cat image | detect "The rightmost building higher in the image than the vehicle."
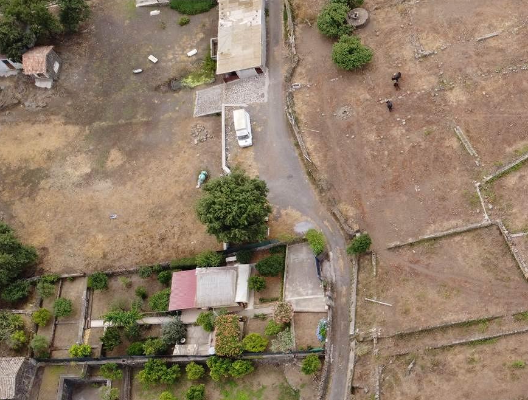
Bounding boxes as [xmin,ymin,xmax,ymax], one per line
[217,0,267,84]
